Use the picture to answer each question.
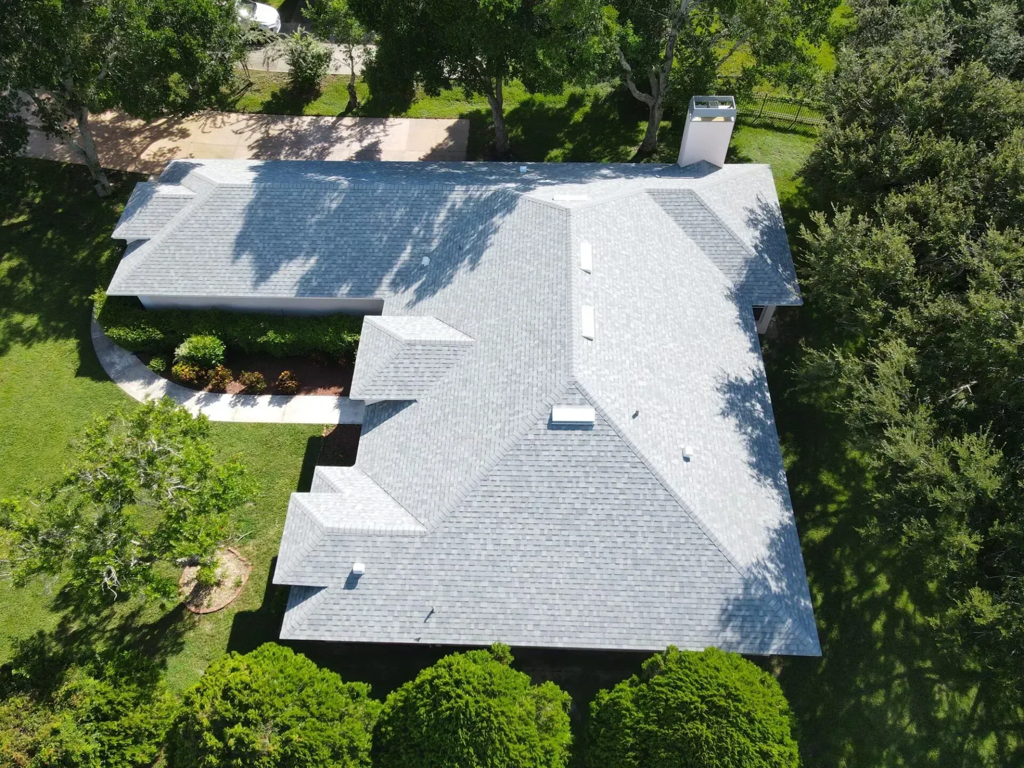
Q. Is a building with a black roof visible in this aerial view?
No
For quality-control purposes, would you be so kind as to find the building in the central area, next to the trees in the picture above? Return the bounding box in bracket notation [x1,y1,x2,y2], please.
[105,99,822,665]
